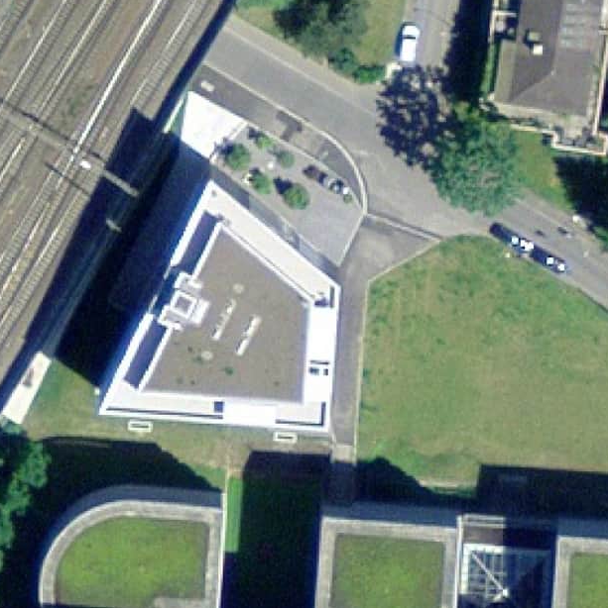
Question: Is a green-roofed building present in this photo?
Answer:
Yes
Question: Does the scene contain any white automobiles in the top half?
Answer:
Yes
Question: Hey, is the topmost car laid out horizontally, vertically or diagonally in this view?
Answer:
vertically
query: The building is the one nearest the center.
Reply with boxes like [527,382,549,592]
[88,150,339,432]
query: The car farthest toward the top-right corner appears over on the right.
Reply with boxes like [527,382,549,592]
[399,21,421,63]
